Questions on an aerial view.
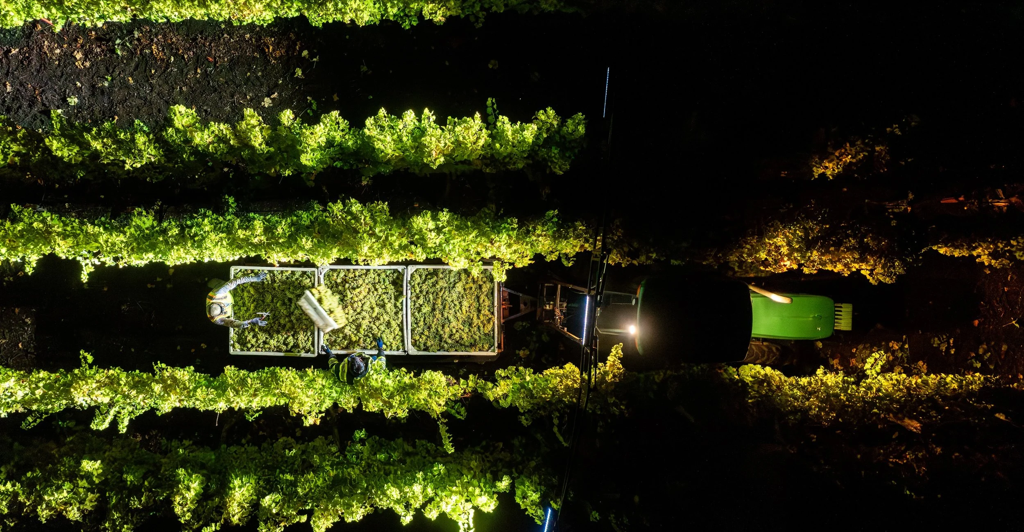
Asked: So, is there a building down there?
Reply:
No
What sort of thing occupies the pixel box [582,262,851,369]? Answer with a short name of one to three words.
work vehicle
